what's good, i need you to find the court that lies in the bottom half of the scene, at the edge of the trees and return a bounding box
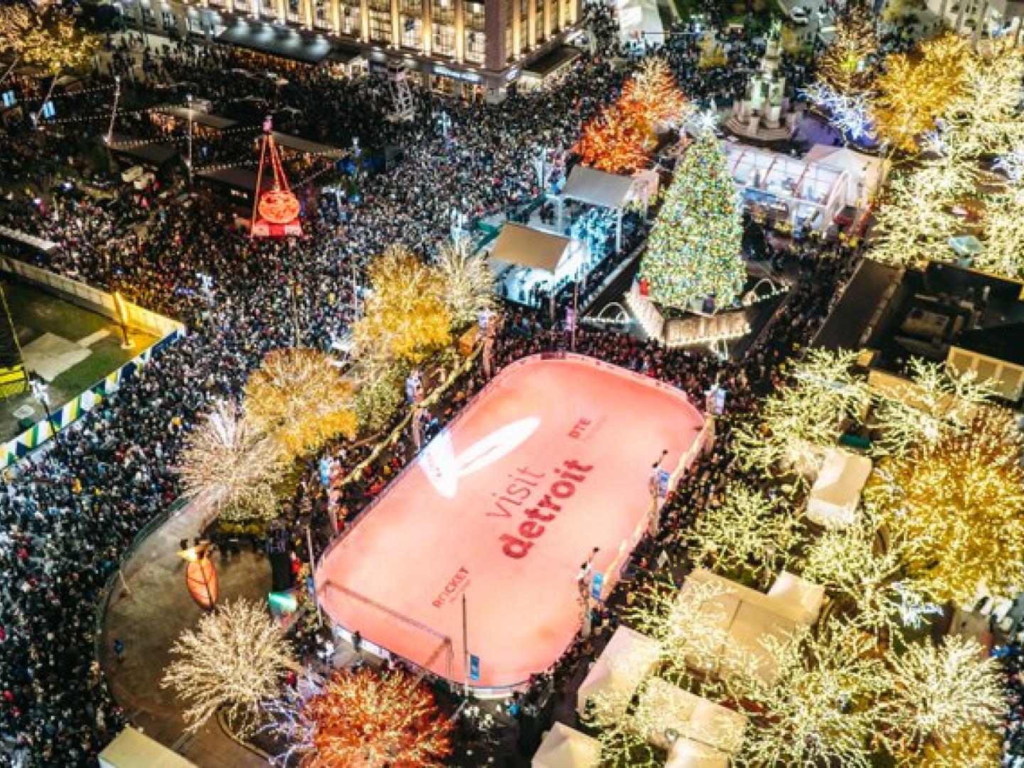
[309,344,712,694]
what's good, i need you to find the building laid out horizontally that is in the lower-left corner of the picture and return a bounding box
[97,726,196,768]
